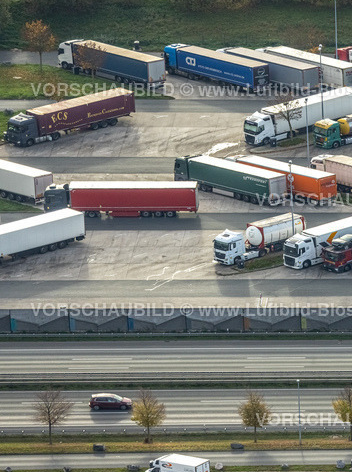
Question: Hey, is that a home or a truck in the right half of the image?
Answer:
truck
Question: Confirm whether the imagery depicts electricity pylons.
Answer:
No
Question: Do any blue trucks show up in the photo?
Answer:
Yes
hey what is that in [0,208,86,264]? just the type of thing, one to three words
truck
